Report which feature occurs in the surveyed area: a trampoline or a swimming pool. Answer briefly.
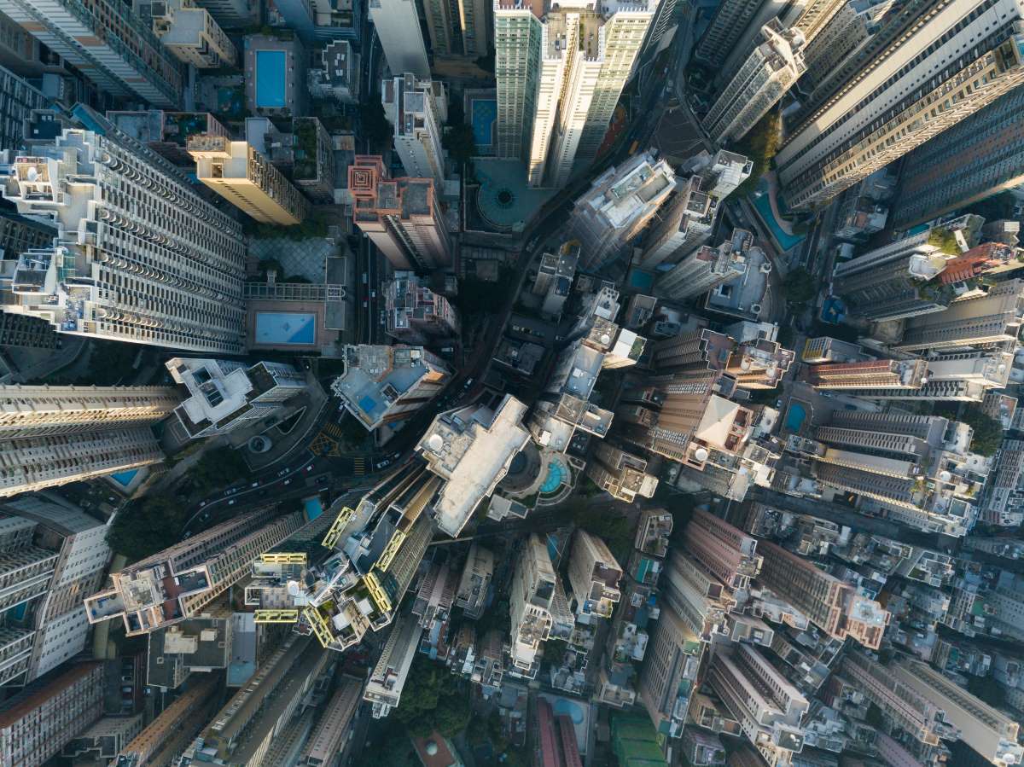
swimming pool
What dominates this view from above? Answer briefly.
buildings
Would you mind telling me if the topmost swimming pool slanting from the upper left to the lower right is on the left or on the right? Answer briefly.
right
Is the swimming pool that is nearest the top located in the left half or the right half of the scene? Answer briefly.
left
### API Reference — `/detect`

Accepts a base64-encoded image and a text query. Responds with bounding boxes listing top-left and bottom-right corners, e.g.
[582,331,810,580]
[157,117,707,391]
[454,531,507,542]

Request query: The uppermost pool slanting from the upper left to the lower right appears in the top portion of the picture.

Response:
[755,192,802,248]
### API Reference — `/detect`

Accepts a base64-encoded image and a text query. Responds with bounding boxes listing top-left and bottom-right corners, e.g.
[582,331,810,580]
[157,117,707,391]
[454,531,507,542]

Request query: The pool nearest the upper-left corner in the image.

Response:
[256,50,286,106]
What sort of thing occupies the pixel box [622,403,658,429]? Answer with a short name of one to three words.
building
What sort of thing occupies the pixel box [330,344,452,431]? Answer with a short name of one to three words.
building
